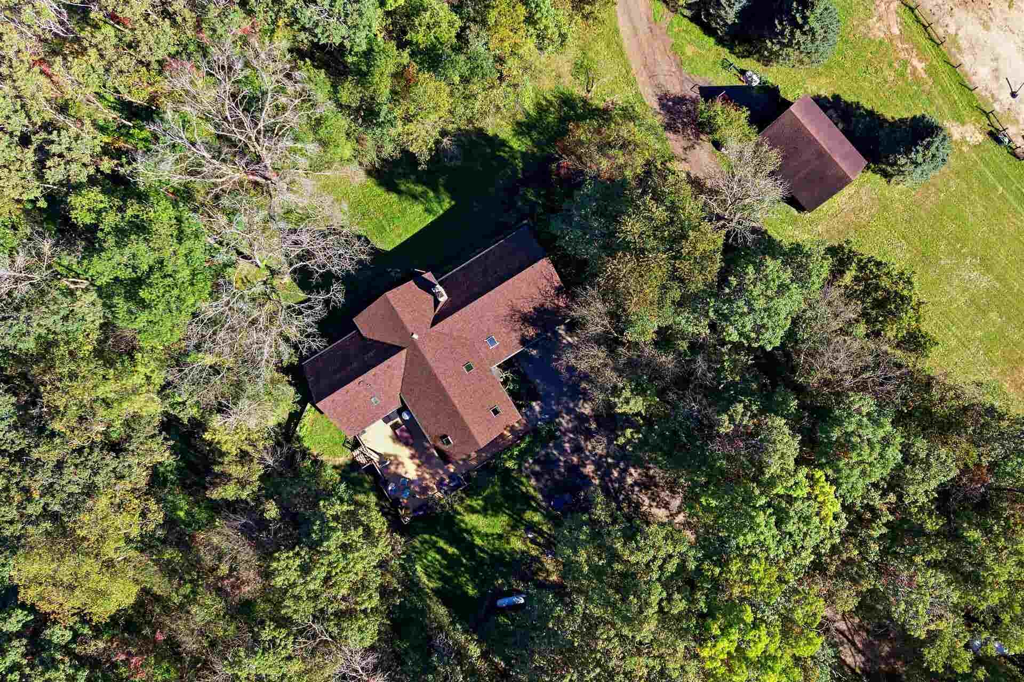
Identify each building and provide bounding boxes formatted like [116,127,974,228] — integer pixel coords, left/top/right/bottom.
[301,224,576,467]
[751,95,862,207]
